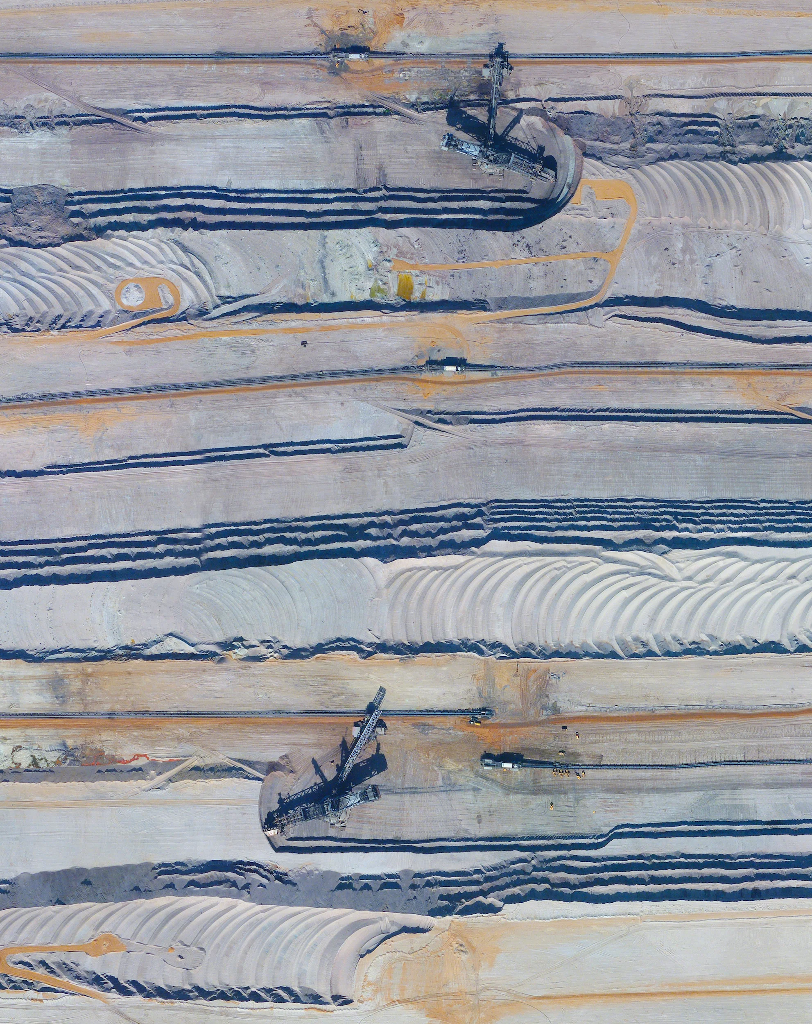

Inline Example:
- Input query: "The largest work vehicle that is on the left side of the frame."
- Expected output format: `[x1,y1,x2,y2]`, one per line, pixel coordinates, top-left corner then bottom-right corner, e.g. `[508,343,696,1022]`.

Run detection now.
[263,711,383,841]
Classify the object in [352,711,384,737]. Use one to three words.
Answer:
vehicle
